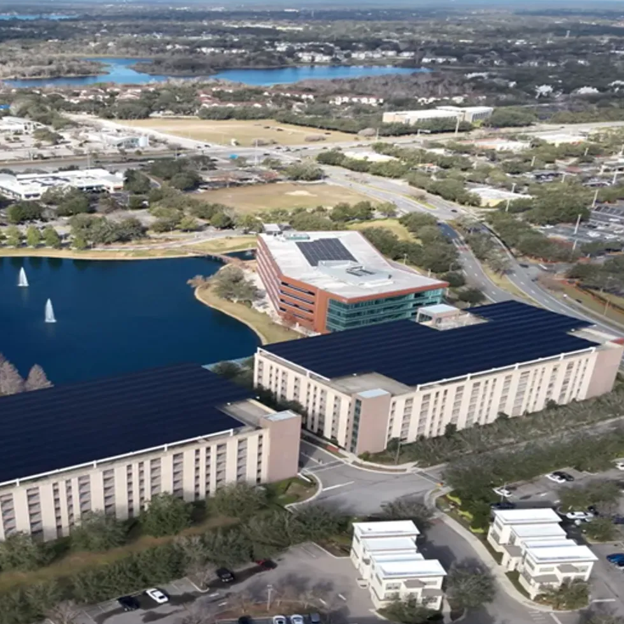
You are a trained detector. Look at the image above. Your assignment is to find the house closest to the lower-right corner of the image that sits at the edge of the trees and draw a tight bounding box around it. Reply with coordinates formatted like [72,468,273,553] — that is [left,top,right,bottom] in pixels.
[490,507,598,598]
